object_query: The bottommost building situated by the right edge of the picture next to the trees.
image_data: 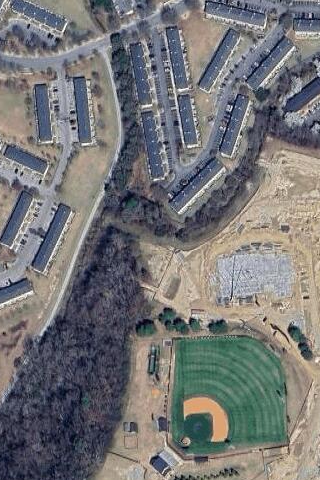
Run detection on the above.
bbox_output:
[285,77,320,115]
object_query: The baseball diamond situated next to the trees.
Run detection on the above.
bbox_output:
[169,334,291,460]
